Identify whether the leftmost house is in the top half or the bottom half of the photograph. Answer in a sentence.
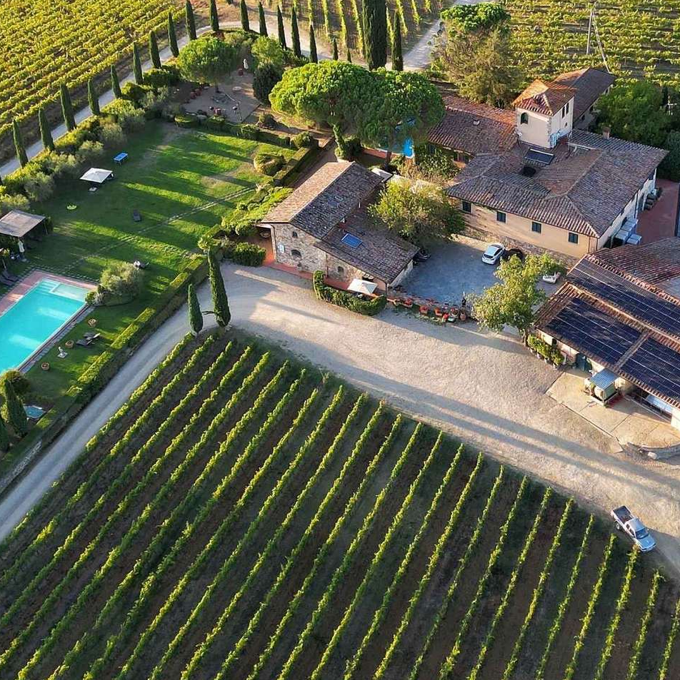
You can find the leftmost house in the top half.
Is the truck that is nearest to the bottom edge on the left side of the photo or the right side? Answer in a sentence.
It is on the right.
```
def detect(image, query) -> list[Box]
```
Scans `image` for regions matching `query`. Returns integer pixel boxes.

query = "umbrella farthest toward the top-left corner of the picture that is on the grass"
[82,170,112,191]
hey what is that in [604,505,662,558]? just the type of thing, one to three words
truck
